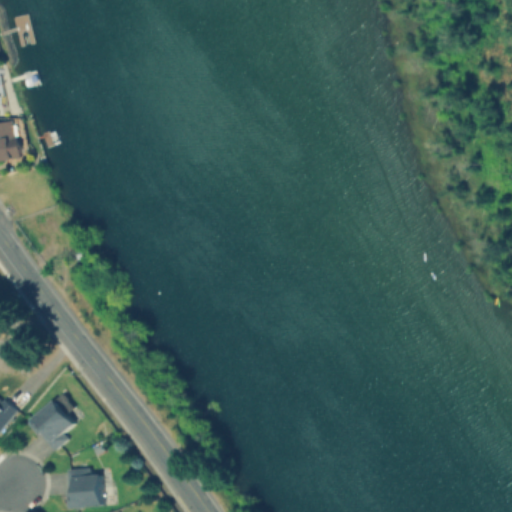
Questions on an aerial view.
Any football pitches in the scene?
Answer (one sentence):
No, the photo shows no football pitch.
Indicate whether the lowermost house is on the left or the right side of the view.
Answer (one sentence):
The lowermost house is on the left side of the image.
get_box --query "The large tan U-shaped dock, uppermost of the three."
[8,14,36,47]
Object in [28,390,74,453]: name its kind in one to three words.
house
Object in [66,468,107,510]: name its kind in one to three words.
house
